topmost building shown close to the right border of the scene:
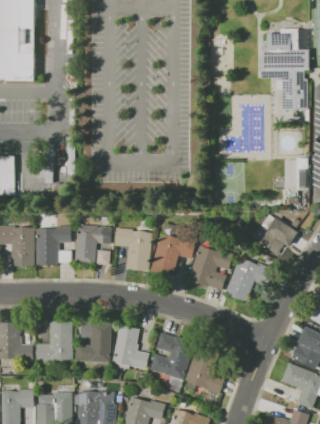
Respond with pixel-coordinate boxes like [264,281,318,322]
[262,28,310,122]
